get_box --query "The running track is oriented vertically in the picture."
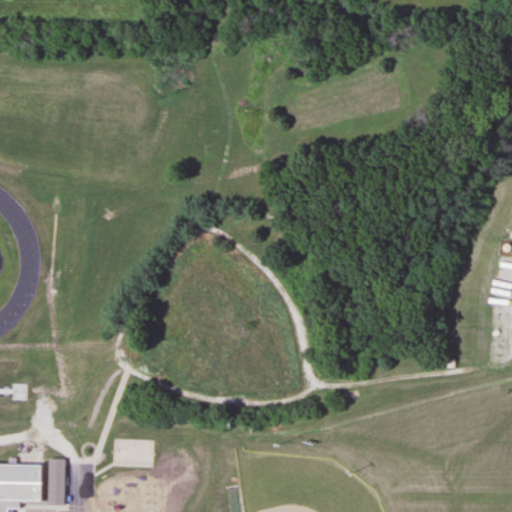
[0,190,40,334]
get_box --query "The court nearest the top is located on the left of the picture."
[114,439,154,468]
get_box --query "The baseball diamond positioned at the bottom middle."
[236,448,384,512]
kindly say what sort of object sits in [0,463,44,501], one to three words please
building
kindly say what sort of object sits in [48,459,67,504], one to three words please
building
